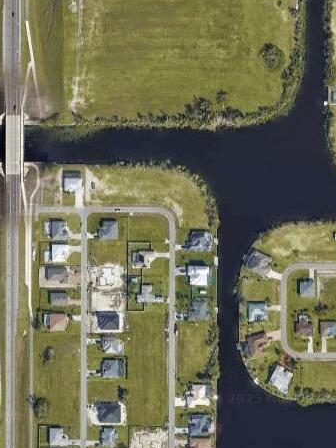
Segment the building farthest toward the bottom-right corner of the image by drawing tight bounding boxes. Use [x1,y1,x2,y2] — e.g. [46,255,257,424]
[267,364,295,393]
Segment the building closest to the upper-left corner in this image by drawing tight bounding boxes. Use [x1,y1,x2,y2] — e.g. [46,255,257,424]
[63,172,82,192]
